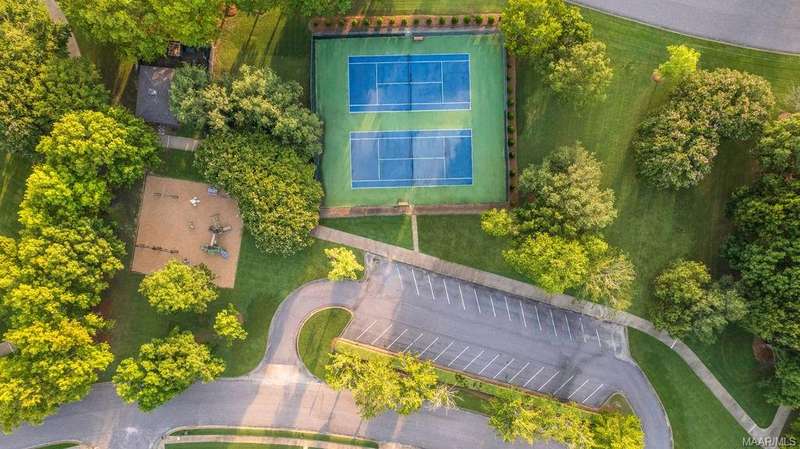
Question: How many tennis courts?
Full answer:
The count of tennis courts comes to 2.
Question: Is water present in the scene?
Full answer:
No, the scene doesn't show any water.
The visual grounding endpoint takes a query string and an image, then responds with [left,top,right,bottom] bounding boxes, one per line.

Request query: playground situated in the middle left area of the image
[131,176,243,289]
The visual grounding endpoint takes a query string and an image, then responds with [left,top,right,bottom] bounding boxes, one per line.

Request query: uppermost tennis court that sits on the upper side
[316,36,505,123]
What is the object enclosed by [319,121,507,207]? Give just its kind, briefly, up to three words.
tennis court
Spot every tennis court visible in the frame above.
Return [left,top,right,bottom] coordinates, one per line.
[319,121,507,207]
[316,36,505,123]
